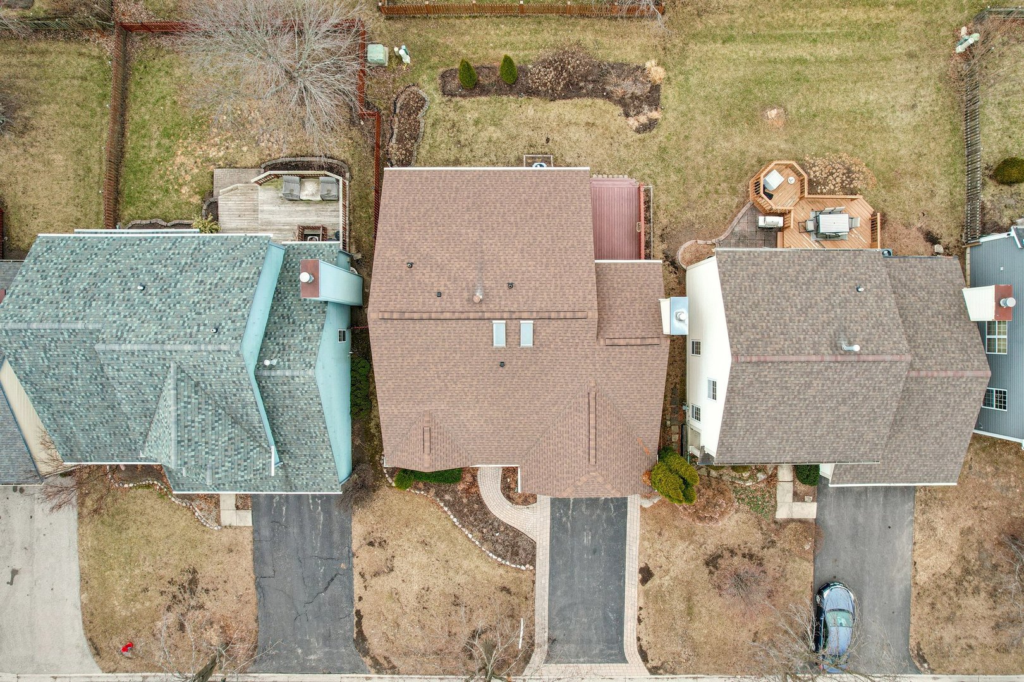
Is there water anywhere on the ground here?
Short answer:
No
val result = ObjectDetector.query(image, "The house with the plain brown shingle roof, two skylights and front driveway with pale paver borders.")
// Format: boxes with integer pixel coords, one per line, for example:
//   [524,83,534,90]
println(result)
[369,165,689,500]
